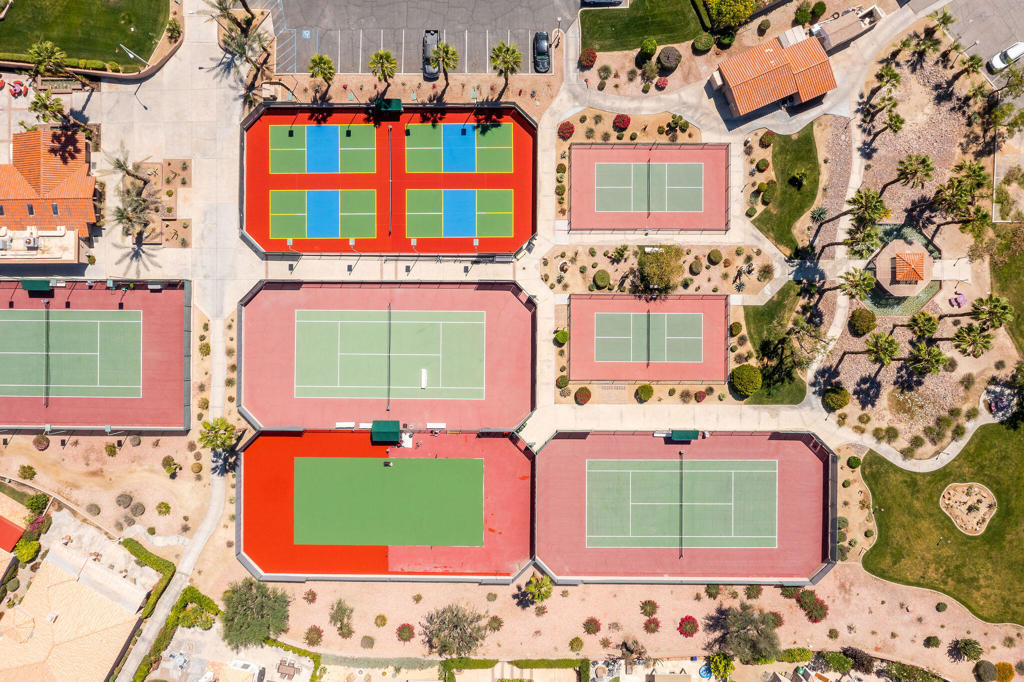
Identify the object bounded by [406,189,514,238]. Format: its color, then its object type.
green sports court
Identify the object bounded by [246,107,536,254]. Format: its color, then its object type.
red sports court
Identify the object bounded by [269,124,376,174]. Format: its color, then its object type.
green sports court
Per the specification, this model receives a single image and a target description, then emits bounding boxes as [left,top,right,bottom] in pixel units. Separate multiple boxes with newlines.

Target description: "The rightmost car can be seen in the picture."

[989,42,1024,74]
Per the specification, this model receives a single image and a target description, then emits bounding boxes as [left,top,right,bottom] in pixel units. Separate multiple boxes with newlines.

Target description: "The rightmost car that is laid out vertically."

[533,31,551,72]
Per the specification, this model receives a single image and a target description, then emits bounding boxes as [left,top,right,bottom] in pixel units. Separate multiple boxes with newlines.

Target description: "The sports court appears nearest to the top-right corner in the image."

[572,145,728,228]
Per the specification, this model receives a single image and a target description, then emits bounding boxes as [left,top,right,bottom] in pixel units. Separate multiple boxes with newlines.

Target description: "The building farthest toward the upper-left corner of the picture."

[0,127,101,265]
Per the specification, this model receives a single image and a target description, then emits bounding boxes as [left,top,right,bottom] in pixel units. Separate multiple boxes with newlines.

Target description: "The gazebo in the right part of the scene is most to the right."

[877,239,935,296]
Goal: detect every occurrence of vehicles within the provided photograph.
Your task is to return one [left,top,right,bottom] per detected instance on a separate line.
[421,29,439,79]
[989,42,1024,74]
[583,0,623,6]
[533,31,551,72]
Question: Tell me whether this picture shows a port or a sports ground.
sports ground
